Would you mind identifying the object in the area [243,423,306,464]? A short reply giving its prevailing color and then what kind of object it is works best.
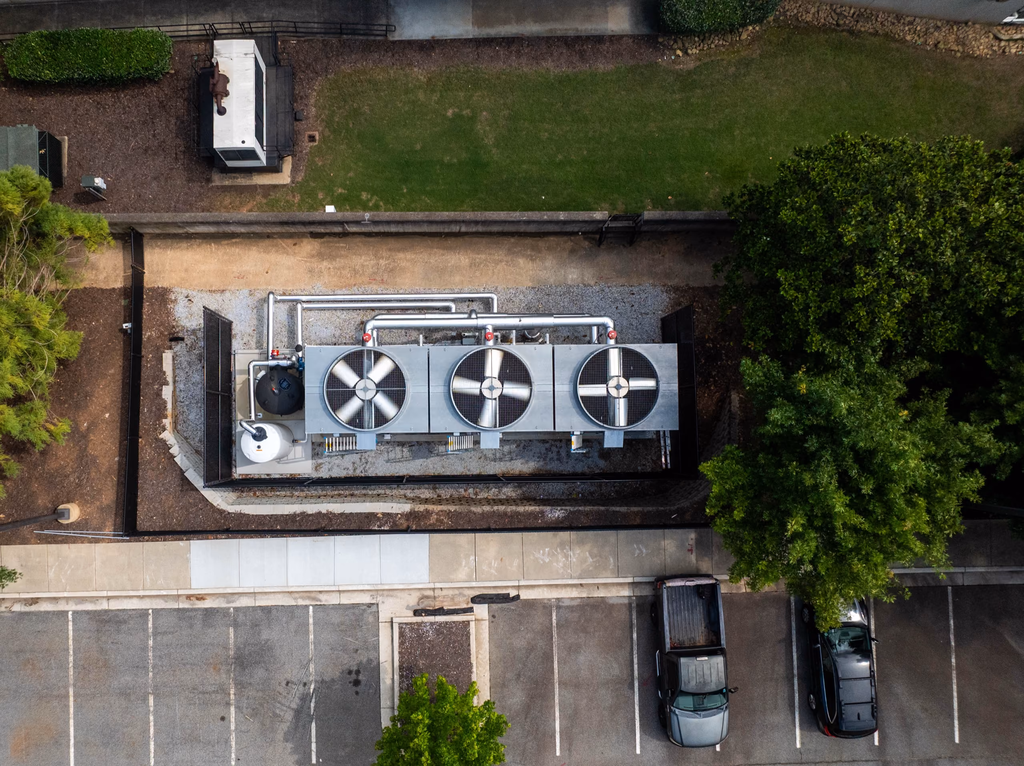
white storage tank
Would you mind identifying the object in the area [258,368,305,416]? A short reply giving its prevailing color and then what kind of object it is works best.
black storage tank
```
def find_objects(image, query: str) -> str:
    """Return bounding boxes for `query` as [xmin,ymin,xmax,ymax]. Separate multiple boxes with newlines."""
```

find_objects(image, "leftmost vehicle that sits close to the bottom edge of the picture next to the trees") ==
[648,567,738,747]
